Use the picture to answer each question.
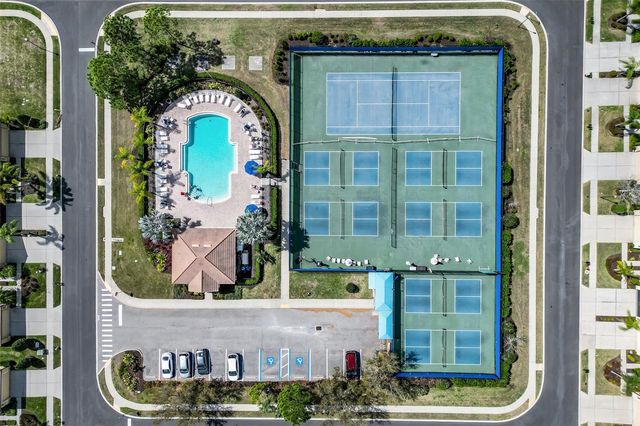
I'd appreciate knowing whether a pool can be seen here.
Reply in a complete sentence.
Yes, you can see a pool in this photo.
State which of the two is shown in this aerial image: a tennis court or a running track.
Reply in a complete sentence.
This aerial view contains a tennis court.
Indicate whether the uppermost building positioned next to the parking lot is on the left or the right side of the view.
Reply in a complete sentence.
It is on the left.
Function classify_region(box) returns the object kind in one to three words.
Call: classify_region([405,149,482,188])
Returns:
sports court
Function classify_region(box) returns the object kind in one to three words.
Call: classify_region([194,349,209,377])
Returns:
car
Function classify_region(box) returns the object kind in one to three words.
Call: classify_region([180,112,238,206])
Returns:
swimming pool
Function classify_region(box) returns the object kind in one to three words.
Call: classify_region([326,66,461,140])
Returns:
tennis court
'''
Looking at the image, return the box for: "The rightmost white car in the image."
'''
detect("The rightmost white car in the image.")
[226,353,239,382]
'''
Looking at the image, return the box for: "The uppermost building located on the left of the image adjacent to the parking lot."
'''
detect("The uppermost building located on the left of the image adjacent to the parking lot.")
[171,228,236,293]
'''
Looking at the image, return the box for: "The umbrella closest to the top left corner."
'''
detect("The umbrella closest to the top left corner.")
[244,160,261,176]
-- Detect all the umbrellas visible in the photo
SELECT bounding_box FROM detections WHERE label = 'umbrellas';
[244,160,261,176]
[245,202,260,214]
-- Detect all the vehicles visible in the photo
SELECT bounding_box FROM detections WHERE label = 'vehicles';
[345,351,358,380]
[194,349,209,377]
[176,352,191,379]
[226,353,239,382]
[159,352,172,380]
